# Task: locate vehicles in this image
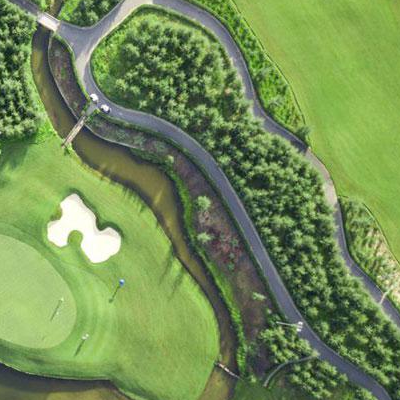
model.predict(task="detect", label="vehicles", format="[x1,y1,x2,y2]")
[98,105,108,114]
[88,95,97,105]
